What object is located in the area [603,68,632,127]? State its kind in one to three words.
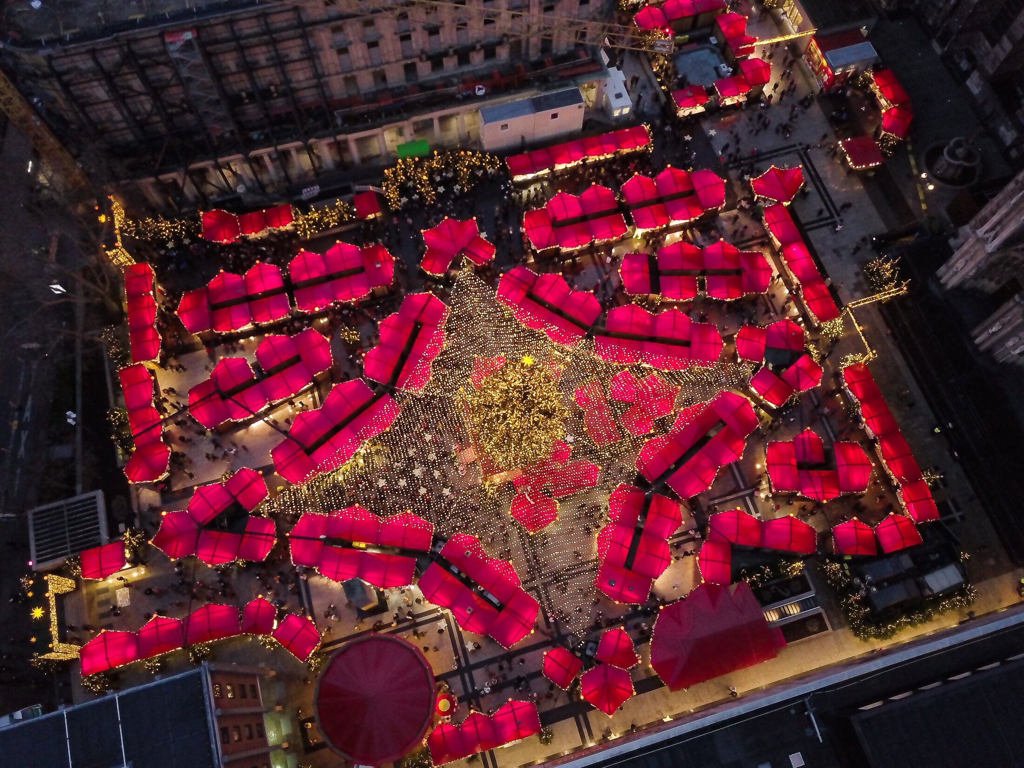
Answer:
van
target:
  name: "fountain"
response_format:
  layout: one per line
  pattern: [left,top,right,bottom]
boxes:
[916,131,991,194]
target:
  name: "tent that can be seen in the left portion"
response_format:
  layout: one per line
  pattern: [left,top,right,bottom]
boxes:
[316,635,437,764]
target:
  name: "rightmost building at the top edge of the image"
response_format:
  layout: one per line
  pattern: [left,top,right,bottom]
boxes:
[892,0,1024,182]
